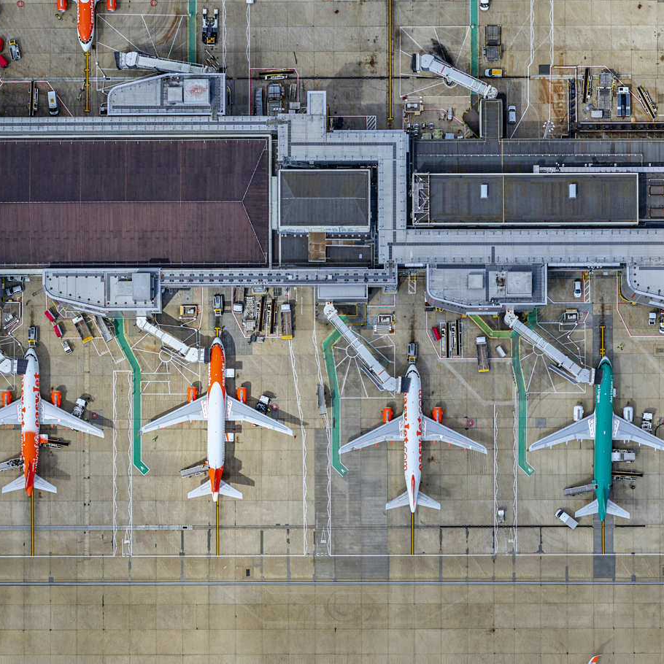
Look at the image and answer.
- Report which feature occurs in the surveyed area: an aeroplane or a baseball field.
aeroplane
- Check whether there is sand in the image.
No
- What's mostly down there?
paved ground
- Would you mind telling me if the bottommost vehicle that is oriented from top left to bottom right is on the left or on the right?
right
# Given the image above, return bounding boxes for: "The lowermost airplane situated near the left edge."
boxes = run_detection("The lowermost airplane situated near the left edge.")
[0,348,105,497]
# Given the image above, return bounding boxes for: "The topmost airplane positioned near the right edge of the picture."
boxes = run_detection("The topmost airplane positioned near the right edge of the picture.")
[529,357,664,522]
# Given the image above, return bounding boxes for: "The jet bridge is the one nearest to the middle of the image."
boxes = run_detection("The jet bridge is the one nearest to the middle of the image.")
[321,301,416,394]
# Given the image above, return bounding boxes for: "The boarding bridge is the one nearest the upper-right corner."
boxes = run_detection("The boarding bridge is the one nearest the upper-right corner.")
[404,53,498,99]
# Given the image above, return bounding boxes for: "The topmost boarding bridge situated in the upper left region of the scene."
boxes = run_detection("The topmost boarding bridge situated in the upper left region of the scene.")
[107,49,219,74]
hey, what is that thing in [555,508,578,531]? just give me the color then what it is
white vehicle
